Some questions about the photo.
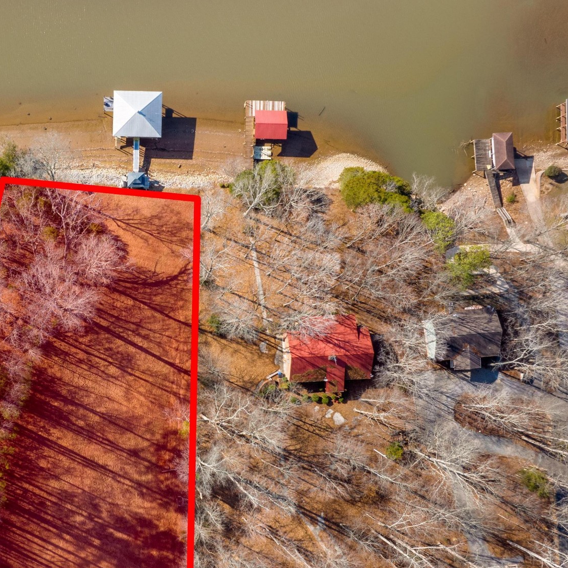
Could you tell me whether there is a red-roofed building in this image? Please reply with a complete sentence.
Yes, looking at the shot, I can spot a red-roofed building.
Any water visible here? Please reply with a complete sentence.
Yes, the picture does contain water.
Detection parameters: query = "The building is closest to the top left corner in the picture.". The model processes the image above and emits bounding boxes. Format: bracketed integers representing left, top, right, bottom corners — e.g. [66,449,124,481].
[103,91,163,141]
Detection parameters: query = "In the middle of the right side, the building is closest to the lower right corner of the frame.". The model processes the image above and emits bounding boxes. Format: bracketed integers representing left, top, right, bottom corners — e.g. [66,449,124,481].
[428,303,503,370]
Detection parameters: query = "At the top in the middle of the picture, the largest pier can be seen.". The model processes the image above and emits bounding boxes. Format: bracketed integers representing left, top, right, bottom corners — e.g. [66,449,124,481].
[243,100,286,169]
